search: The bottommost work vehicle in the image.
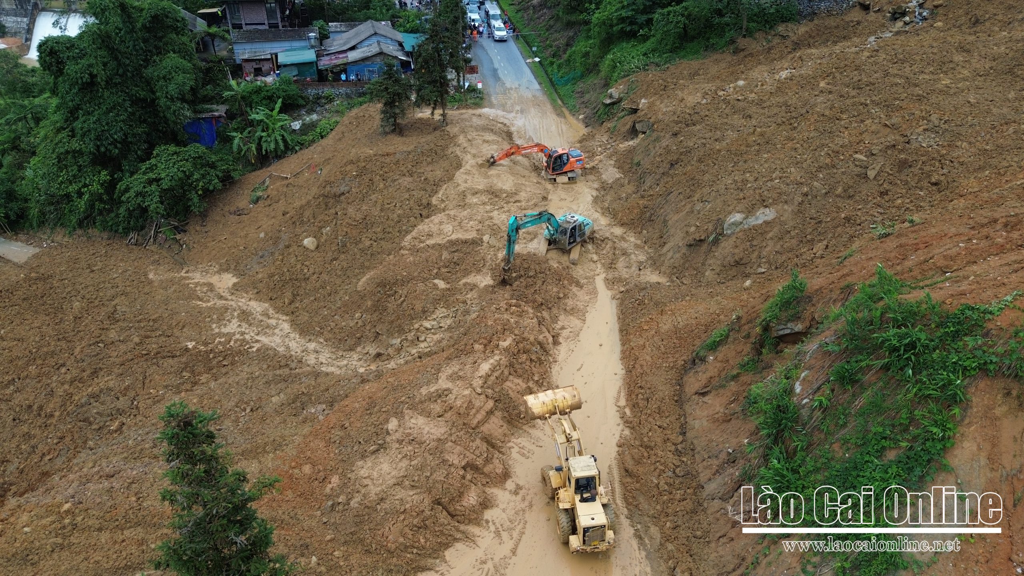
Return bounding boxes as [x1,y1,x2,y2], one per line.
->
[521,391,616,557]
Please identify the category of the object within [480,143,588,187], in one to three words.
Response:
work vehicle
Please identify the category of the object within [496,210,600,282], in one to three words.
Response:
work vehicle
